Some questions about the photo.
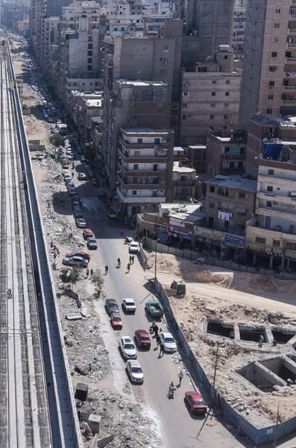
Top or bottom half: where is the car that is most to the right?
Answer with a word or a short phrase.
bottom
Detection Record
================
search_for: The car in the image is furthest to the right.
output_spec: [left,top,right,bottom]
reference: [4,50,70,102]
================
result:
[182,392,212,418]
